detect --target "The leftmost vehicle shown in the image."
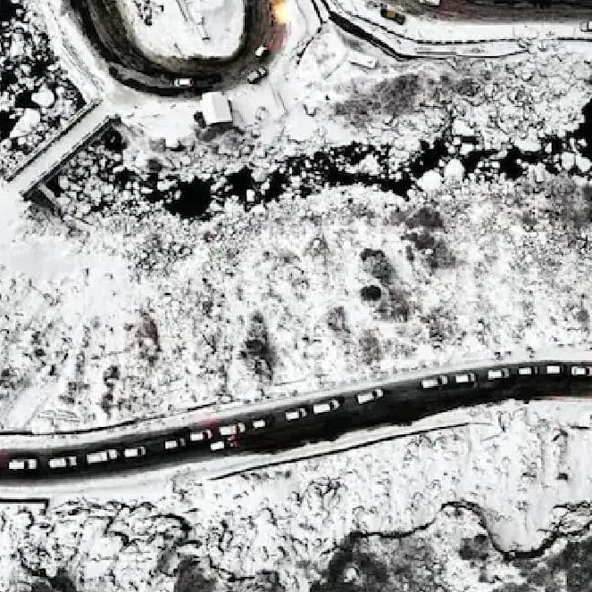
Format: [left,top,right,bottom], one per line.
[10,457,38,469]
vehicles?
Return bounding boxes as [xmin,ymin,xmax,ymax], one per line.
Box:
[357,388,384,404]
[10,457,38,469]
[220,421,246,436]
[165,436,188,448]
[174,77,196,88]
[520,366,541,377]
[423,375,448,388]
[273,0,288,27]
[488,368,511,379]
[191,428,214,440]
[51,455,79,467]
[285,407,309,419]
[89,449,117,463]
[381,6,405,26]
[419,0,441,7]
[545,365,566,376]
[581,20,592,32]
[246,67,270,85]
[213,436,239,449]
[570,366,592,377]
[252,416,275,428]
[125,445,148,457]
[455,372,477,384]
[314,399,341,414]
